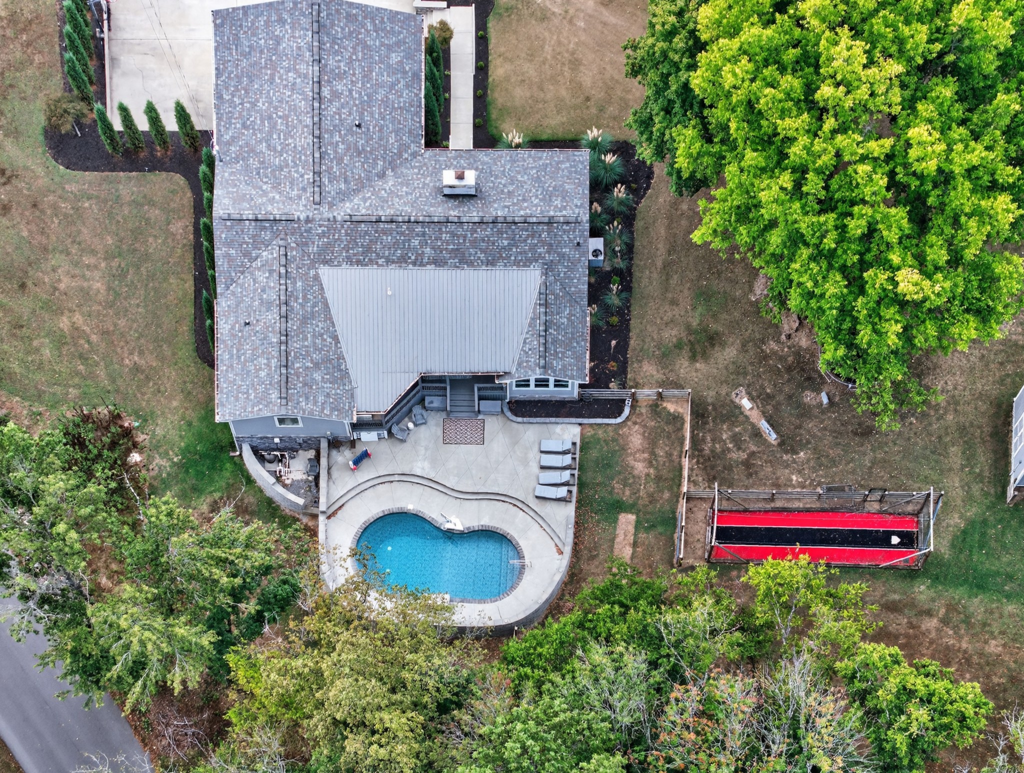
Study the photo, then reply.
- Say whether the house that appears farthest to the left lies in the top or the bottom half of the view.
top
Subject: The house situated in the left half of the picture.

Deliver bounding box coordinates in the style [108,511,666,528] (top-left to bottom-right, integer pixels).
[213,0,592,457]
